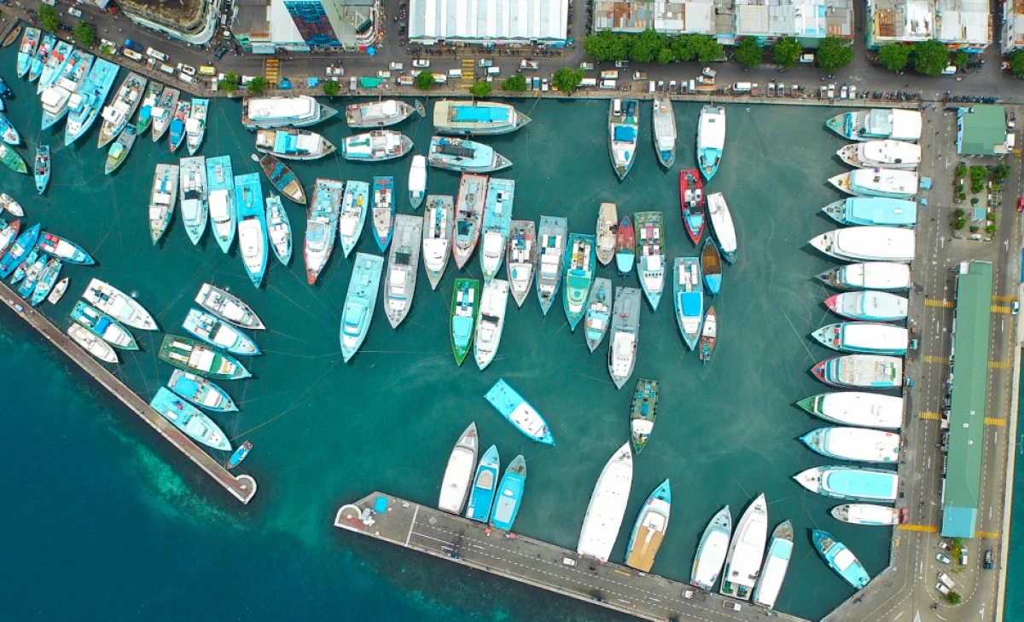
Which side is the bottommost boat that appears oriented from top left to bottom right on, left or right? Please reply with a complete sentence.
It is on the right.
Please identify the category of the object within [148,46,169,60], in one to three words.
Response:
vehicle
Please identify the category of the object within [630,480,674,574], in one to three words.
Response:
ship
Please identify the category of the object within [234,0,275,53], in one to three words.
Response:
building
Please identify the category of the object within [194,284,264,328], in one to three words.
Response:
boat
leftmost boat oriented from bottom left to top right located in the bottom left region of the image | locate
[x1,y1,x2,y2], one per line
[226,440,254,470]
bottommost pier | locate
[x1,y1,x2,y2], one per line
[332,491,809,622]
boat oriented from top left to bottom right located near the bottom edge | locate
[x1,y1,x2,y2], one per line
[814,531,871,592]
